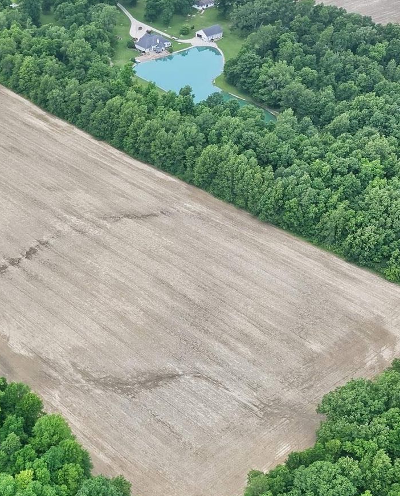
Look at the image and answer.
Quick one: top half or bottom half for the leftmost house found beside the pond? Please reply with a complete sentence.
It is in the top half that the leftmost house found beside the pond appears.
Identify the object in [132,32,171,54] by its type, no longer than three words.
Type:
house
